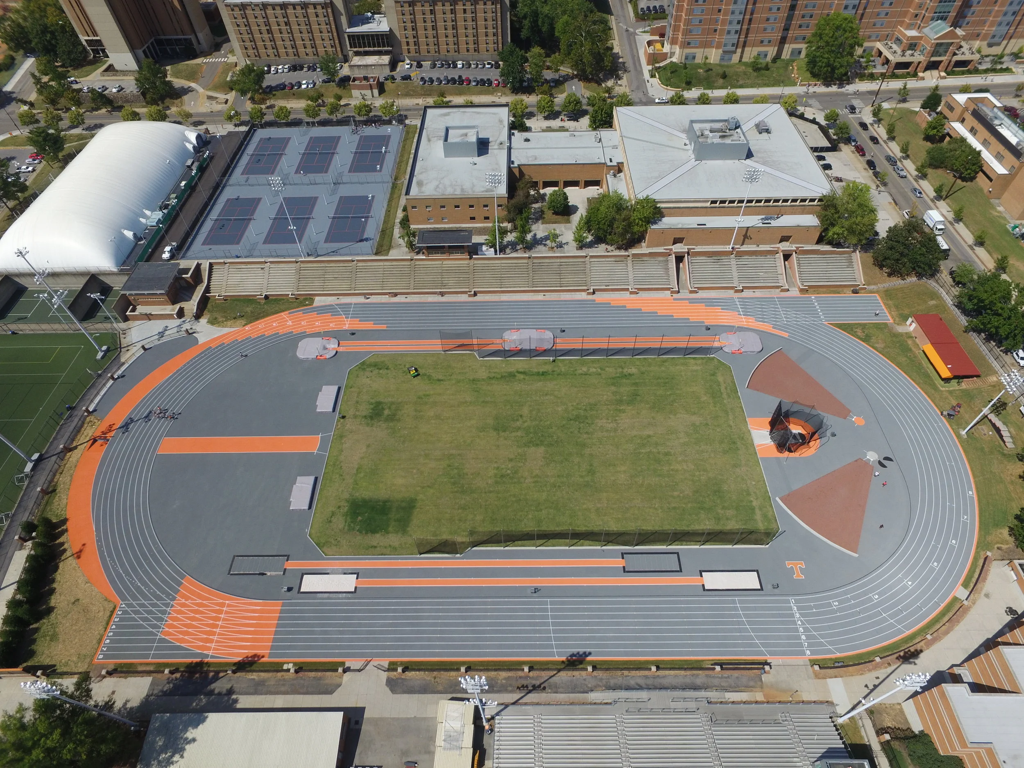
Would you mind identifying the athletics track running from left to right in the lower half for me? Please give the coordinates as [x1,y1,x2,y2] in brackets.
[67,293,981,664]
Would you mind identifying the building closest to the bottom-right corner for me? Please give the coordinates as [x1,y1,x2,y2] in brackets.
[903,619,1024,768]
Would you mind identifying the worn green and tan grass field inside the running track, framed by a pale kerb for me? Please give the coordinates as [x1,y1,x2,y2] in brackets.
[307,352,780,557]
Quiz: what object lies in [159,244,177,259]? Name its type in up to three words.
vehicle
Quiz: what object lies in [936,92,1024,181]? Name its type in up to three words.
building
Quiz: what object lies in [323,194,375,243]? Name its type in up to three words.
tennis court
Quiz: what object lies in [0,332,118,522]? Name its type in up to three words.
sports field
